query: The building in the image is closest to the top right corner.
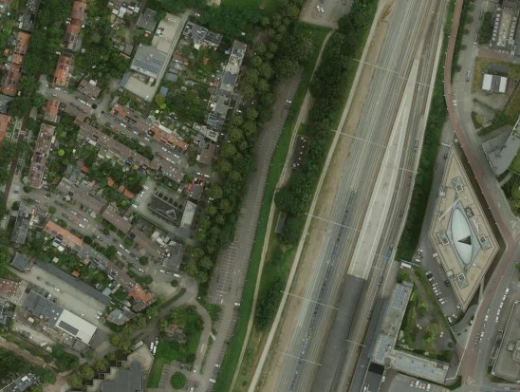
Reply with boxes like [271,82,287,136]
[490,4,520,55]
